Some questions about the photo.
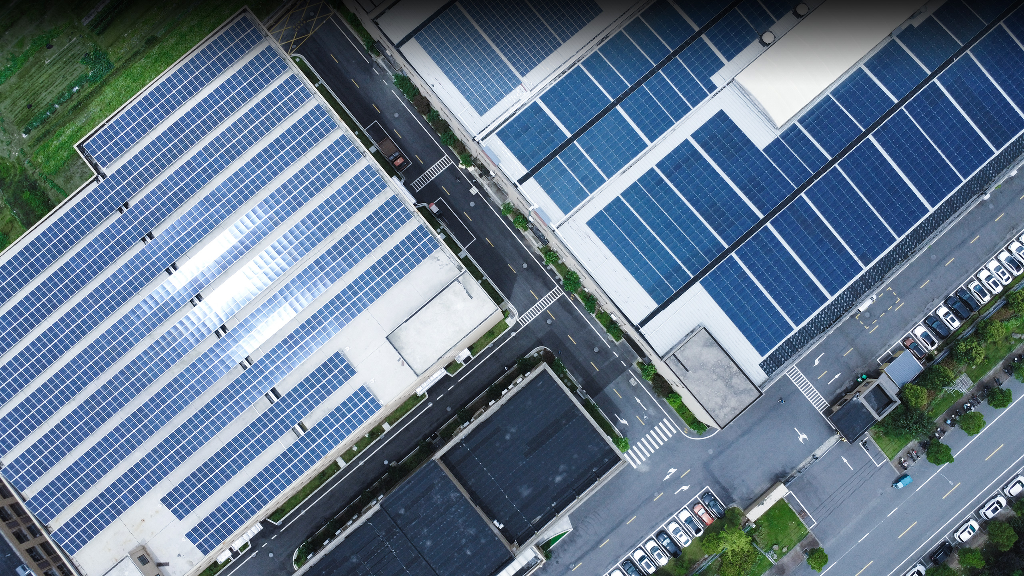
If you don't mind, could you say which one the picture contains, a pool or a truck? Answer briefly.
truck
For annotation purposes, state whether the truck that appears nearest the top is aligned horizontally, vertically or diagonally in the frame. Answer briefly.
diagonally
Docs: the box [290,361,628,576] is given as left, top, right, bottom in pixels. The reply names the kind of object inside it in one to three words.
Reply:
building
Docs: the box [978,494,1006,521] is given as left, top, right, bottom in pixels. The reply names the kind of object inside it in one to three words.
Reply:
car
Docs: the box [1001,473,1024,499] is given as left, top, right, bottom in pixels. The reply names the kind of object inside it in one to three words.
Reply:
car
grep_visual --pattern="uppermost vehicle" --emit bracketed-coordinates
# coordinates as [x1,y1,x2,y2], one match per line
[376,136,411,174]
